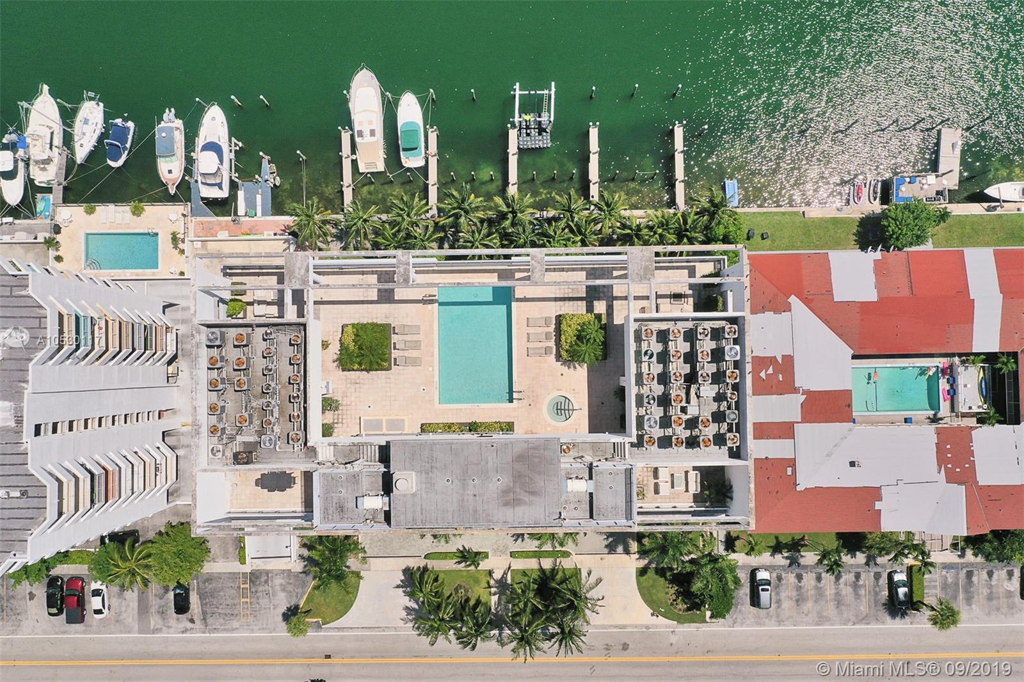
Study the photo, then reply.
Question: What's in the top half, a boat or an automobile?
boat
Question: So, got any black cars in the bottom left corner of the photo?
Yes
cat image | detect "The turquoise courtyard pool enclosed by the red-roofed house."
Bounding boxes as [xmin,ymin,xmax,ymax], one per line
[852,361,942,415]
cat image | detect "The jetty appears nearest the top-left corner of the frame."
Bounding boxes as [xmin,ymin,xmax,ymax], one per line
[53,150,68,205]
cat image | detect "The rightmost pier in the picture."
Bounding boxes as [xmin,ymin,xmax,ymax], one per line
[937,128,961,190]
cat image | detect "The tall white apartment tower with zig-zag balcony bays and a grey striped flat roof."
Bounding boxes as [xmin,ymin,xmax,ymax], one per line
[0,255,181,582]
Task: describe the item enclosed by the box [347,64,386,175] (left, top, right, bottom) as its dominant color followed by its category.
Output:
white boat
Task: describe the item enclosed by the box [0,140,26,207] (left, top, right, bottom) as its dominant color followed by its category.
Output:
white boat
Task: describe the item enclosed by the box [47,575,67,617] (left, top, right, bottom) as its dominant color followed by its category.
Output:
black car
